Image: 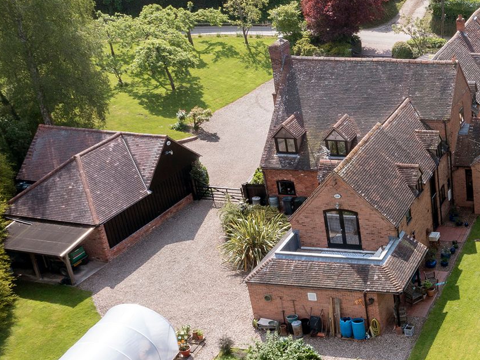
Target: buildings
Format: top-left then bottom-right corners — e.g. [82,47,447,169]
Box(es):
[59,310,177,360]
[2,122,203,286]
[238,37,480,334]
